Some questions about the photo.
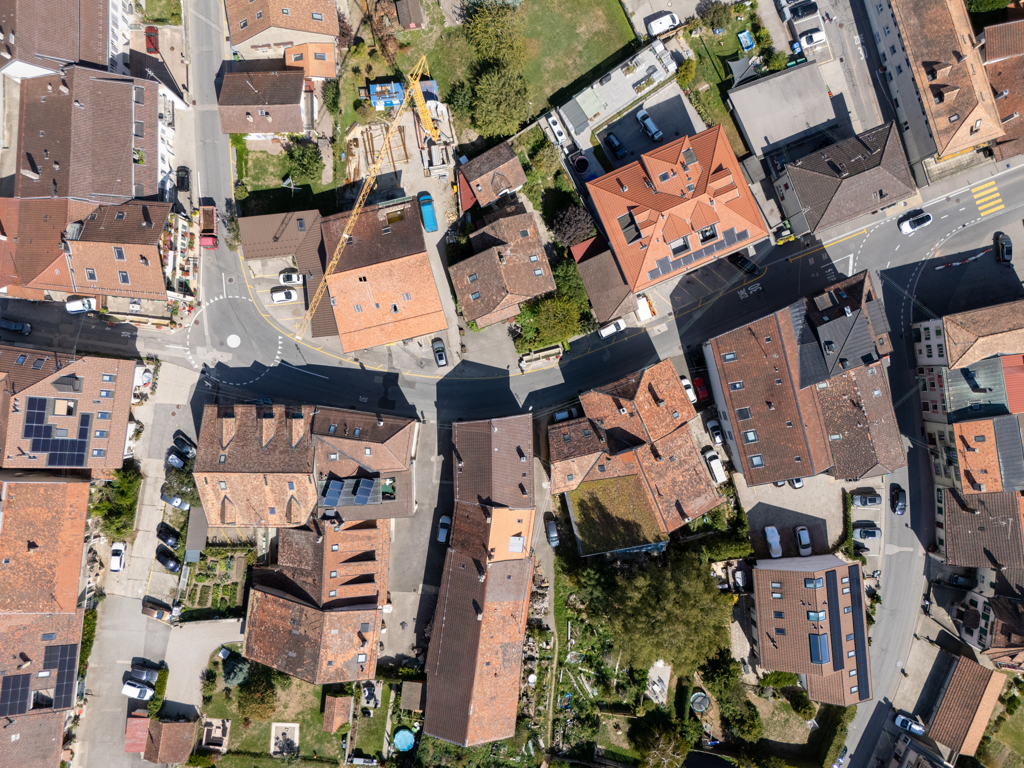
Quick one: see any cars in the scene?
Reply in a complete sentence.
Yes, there is a car in the image.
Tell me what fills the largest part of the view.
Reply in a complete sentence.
What you mostly see from above here is buildings.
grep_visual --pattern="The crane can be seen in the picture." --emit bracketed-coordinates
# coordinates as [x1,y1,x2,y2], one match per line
[294,55,452,339]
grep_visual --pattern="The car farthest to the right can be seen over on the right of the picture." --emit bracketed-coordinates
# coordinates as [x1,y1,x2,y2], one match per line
[995,234,1014,265]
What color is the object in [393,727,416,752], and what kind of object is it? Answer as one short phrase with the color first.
blue swimming pool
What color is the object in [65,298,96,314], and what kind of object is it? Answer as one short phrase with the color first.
white car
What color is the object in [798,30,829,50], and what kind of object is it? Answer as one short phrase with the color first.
white car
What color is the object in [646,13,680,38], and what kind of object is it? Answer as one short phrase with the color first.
white vehicle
